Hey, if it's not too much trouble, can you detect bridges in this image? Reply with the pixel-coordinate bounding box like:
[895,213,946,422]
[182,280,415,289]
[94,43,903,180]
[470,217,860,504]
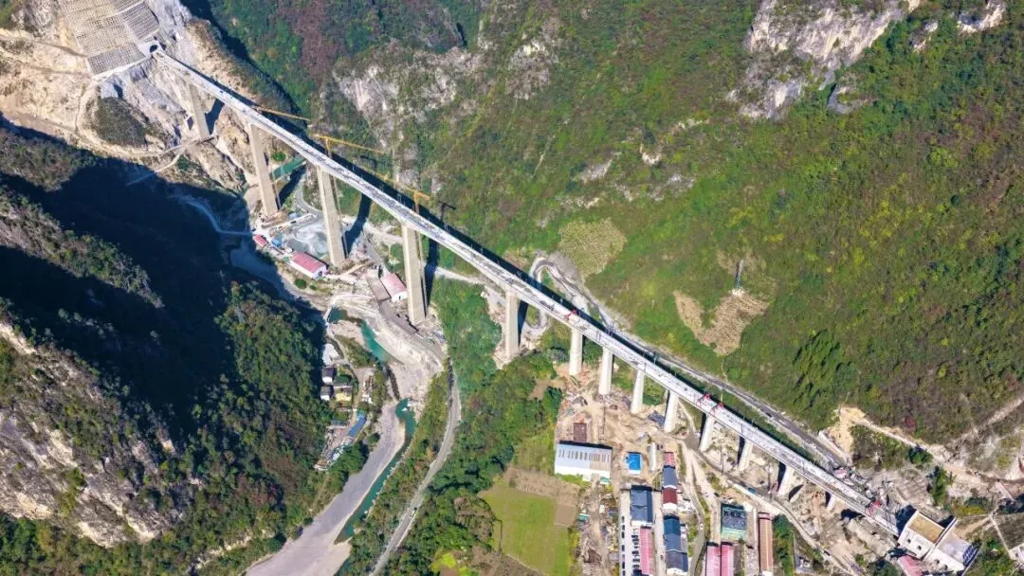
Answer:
[152,52,939,567]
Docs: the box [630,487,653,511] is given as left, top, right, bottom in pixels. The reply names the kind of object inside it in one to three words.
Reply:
building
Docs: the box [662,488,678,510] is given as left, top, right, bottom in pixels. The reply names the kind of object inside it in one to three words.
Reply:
house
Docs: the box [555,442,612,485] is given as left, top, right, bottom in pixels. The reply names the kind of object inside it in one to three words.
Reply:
building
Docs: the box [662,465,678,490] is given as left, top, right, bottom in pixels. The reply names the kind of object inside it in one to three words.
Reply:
house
